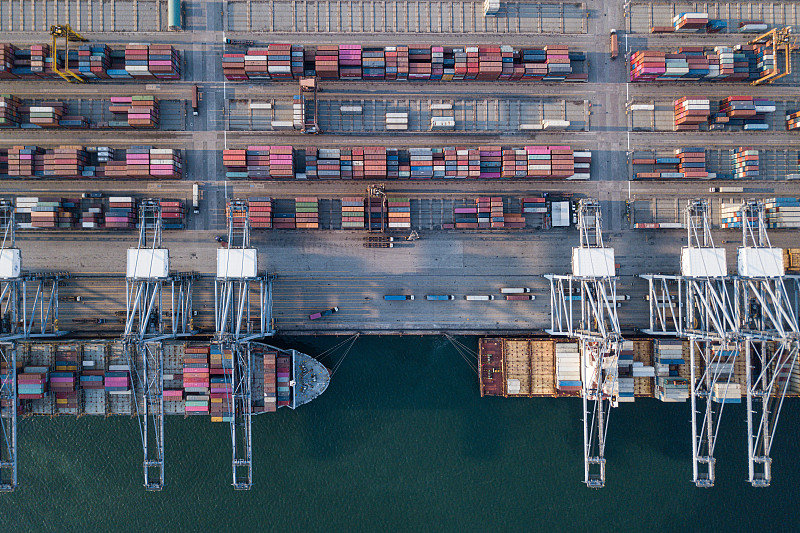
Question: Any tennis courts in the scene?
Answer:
No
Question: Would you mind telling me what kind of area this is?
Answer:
port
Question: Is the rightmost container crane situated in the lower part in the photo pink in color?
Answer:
No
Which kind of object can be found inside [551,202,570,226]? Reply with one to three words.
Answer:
building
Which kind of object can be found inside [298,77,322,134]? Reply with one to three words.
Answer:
container crane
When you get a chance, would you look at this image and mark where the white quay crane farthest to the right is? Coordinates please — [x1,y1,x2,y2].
[698,198,800,491]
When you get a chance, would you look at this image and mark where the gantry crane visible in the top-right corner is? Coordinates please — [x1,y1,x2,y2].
[751,29,790,85]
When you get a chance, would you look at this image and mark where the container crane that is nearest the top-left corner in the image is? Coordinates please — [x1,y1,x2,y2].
[48,24,86,84]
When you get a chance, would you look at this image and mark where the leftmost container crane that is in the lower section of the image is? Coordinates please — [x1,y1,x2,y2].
[0,197,86,494]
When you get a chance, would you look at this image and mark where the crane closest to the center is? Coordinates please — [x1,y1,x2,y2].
[366,183,386,234]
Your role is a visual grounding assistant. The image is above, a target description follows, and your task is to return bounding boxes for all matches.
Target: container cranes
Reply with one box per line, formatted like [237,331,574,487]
[48,24,86,84]
[634,198,745,491]
[538,198,623,491]
[366,183,386,234]
[298,77,322,134]
[0,197,86,494]
[698,198,800,491]
[116,197,212,493]
[212,197,288,492]
[751,29,790,85]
